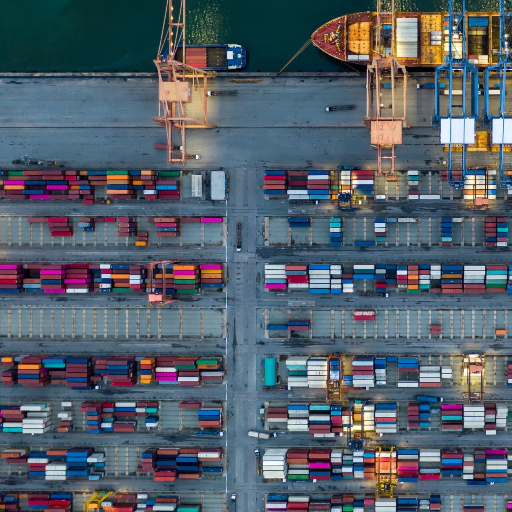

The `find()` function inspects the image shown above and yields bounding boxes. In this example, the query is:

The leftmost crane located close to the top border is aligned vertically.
[154,0,223,166]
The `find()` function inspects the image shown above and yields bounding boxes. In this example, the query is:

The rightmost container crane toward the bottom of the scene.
[462,349,486,402]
